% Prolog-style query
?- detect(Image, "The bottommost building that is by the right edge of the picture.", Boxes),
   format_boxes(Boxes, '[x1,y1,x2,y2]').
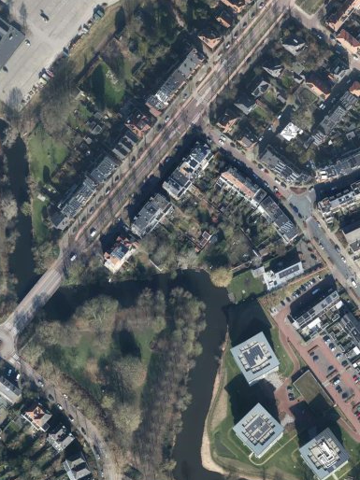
[298,427,349,480]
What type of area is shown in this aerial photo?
residential area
